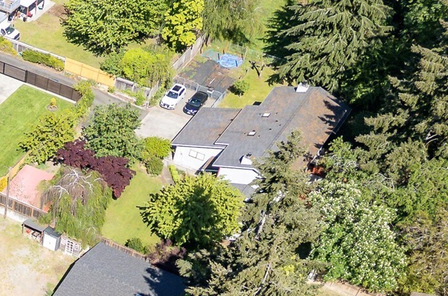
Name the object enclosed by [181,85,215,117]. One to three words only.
car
